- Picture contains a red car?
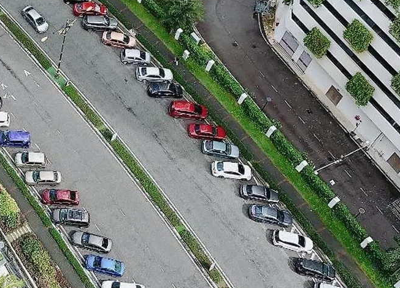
Yes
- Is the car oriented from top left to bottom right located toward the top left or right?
left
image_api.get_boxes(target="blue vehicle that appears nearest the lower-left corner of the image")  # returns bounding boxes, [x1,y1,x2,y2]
[80,251,125,278]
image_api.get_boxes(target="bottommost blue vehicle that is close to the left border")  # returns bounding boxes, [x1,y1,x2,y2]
[0,129,32,150]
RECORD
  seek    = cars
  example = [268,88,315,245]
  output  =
[121,50,152,67]
[80,251,125,278]
[136,68,174,83]
[15,151,48,169]
[247,204,293,230]
[101,32,137,50]
[40,188,82,207]
[20,6,52,33]
[169,101,207,122]
[186,124,228,142]
[146,82,185,100]
[0,112,10,129]
[84,14,117,32]
[23,168,63,188]
[0,129,32,150]
[237,183,280,207]
[269,228,316,257]
[68,227,111,252]
[209,162,253,183]
[52,206,92,228]
[199,141,241,161]
[99,276,144,288]
[292,255,338,283]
